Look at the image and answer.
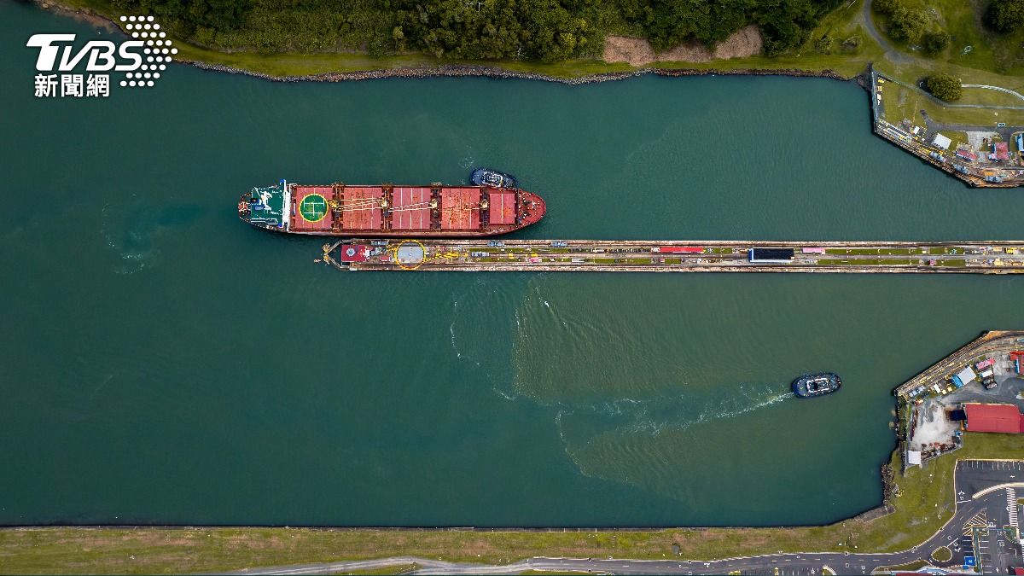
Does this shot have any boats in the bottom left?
No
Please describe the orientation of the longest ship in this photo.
from side to side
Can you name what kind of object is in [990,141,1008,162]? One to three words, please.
building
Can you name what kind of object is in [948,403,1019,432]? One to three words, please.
building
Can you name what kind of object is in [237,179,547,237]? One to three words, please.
ship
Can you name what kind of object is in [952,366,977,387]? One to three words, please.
shed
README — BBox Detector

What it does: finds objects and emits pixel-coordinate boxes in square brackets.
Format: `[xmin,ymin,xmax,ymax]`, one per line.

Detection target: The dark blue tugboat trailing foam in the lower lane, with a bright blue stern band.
[792,374,841,396]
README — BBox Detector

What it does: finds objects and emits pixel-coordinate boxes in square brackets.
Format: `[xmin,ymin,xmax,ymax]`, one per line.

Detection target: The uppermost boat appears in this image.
[470,167,518,187]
